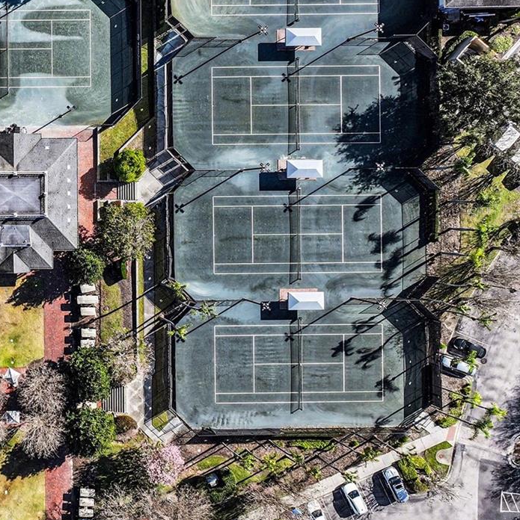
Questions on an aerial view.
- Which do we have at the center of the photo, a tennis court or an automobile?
tennis court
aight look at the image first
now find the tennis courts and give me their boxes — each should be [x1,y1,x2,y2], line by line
[171,0,430,39]
[174,299,439,429]
[172,169,436,299]
[0,0,139,129]
[171,39,432,169]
